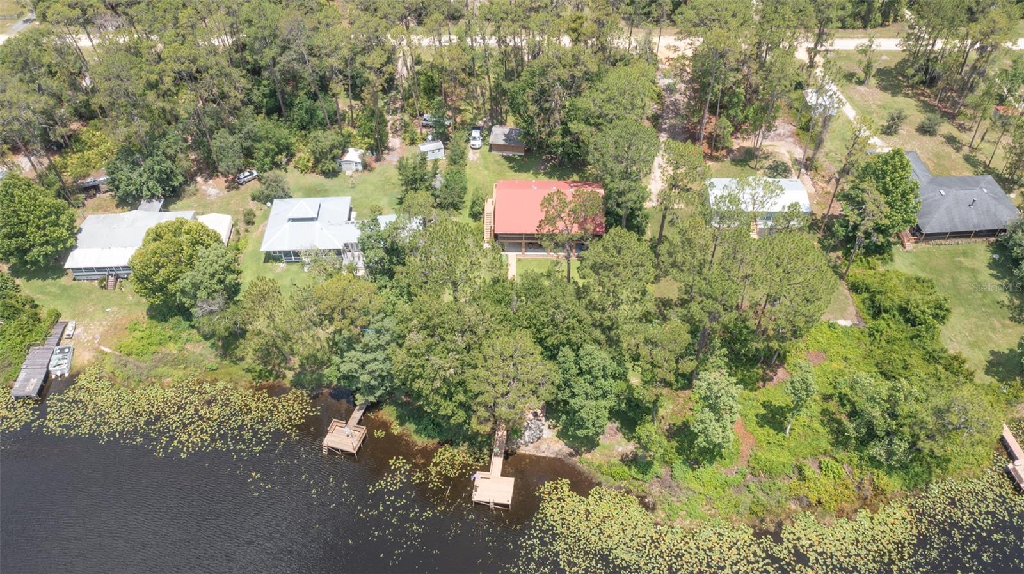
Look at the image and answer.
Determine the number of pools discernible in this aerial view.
none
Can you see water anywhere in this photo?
Yes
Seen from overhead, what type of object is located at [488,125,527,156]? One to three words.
shed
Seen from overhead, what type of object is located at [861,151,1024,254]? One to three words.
house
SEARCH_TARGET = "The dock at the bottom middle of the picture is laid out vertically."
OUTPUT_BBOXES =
[473,425,514,513]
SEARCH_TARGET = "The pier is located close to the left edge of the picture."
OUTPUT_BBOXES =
[11,322,66,406]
